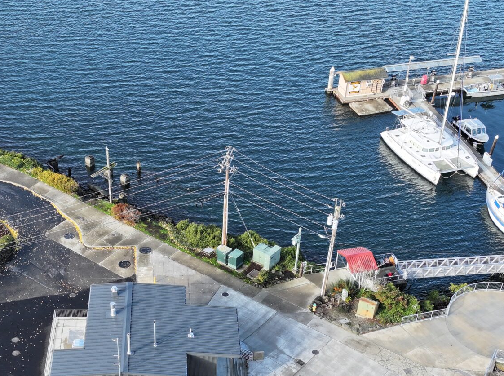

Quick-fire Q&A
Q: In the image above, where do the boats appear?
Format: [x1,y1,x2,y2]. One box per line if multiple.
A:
[376,0,475,186]
[485,167,504,230]
[447,118,488,147]
[462,64,504,100]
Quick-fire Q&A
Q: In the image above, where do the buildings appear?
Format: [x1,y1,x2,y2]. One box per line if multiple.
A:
[336,61,387,98]
[51,281,241,376]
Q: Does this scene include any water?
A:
Yes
